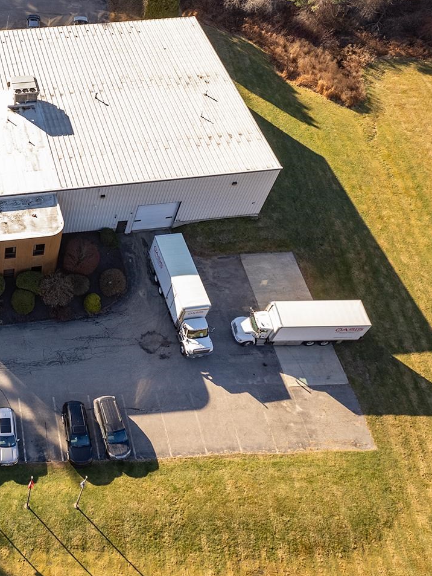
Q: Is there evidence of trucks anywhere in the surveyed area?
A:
Yes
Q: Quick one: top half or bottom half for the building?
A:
top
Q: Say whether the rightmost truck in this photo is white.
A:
Yes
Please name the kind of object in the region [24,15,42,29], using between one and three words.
vehicle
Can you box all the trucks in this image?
[150,233,220,357]
[230,300,371,345]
